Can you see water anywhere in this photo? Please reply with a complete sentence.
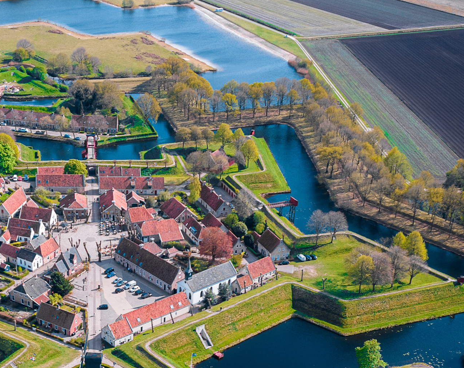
Yes, some water is visible.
